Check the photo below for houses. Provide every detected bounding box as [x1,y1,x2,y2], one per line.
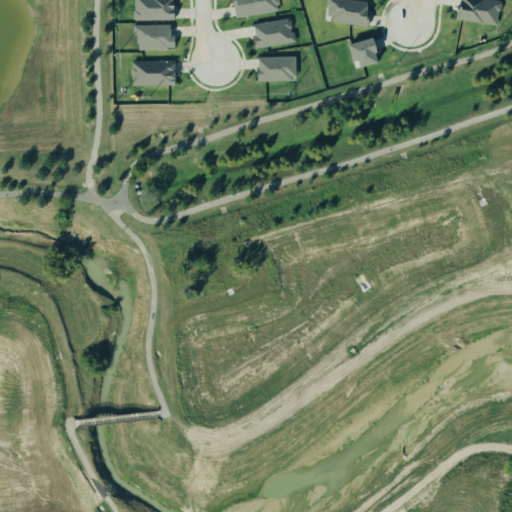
[258,56,298,81]
[348,38,380,68]
[456,0,501,26]
[133,0,174,19]
[328,0,370,26]
[136,24,173,50]
[235,0,280,18]
[254,19,296,48]
[132,60,175,86]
